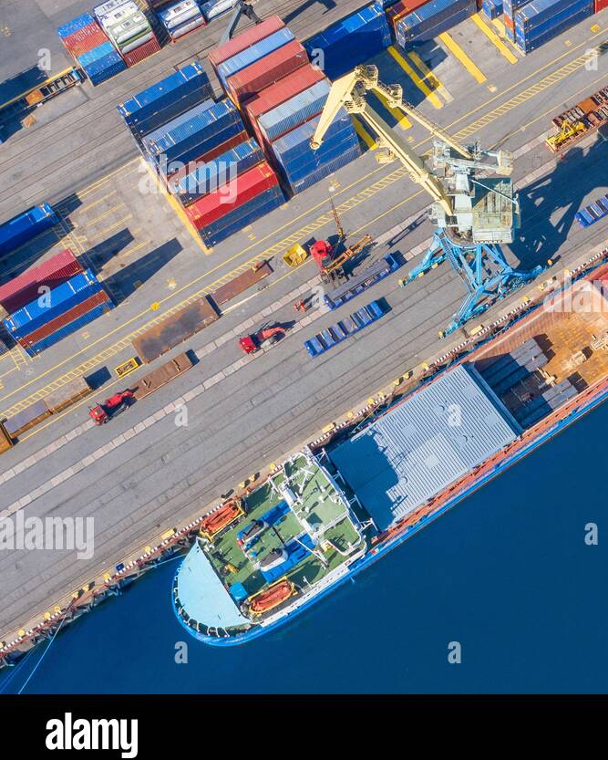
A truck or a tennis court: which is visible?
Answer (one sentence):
Of the two, only a truck appears.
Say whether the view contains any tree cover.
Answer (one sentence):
No, tree cover can't be seen anywhere here.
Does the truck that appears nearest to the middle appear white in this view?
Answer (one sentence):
No, the truck that appears nearest to the middle is red.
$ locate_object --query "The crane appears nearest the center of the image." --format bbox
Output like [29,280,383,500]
[308,227,371,292]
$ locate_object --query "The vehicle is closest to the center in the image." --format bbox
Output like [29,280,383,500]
[237,320,298,357]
